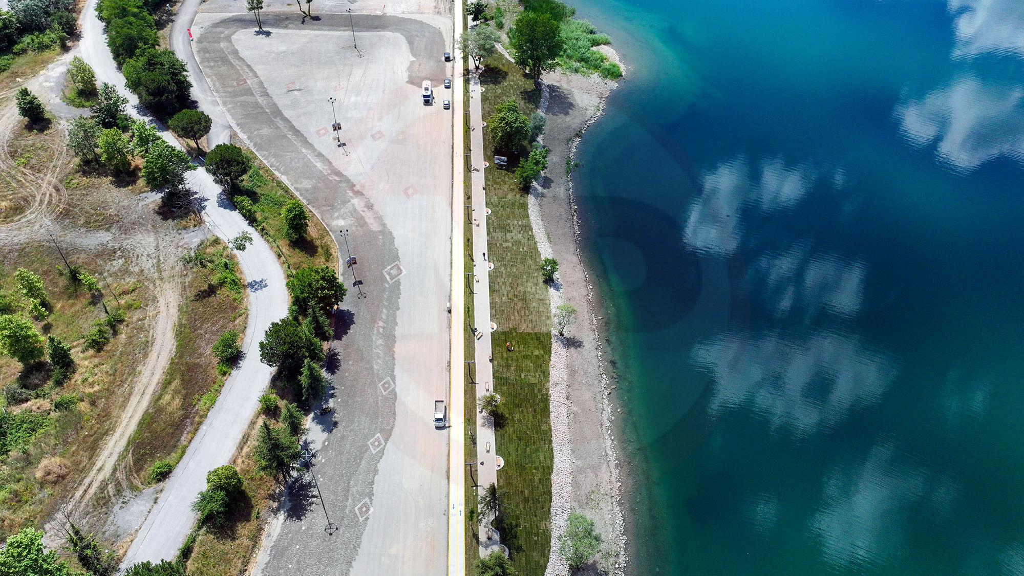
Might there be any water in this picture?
Yes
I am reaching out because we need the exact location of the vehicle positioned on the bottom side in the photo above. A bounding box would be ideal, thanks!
[432,396,448,425]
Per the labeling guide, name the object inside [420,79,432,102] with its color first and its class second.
white vehicle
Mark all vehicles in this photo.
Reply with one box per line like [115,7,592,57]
[442,98,450,108]
[432,396,448,425]
[444,52,450,61]
[443,77,451,87]
[420,79,432,102]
